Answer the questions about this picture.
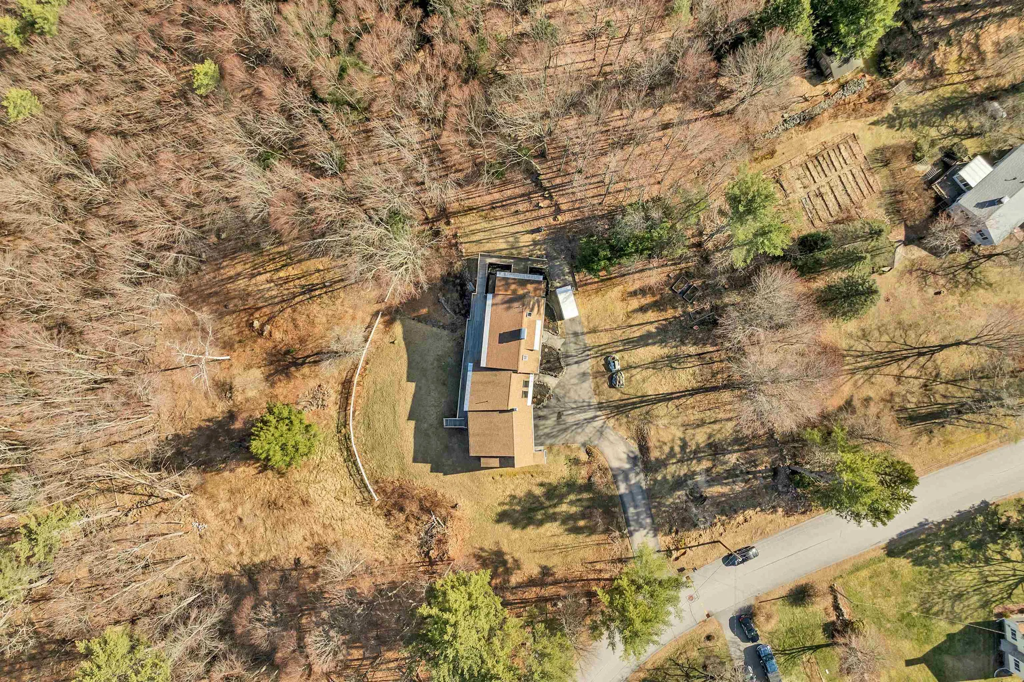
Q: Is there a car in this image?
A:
Yes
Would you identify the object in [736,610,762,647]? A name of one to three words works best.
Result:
car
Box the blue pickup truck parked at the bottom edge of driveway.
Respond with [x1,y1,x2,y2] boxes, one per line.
[758,647,785,682]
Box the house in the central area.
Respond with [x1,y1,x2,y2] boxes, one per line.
[463,272,547,468]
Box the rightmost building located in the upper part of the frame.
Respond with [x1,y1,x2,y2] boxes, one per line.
[942,138,1024,248]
